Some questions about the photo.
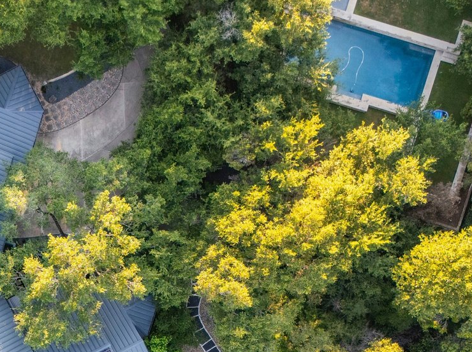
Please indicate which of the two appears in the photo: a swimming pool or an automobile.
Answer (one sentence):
Of the two, only a swimming pool appears.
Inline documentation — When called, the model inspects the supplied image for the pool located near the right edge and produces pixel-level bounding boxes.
[311,4,459,116]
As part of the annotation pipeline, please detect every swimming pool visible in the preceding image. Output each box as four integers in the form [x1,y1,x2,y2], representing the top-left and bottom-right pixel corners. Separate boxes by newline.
[311,4,459,116]
[335,0,357,13]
